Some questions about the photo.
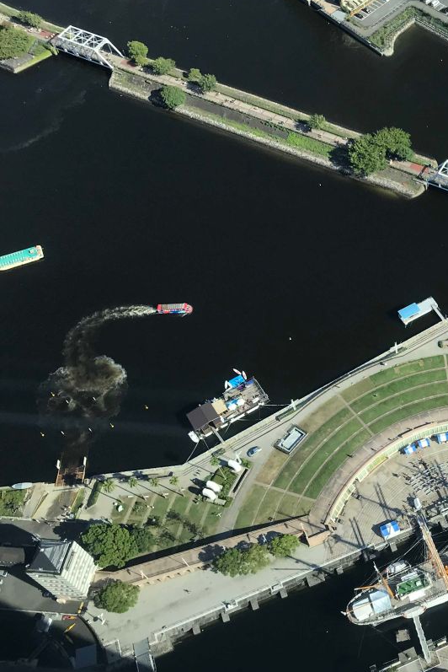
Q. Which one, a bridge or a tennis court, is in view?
bridge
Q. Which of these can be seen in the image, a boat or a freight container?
boat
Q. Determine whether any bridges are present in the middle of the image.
No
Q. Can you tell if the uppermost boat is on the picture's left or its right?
left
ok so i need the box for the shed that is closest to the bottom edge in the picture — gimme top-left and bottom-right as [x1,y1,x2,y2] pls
[76,645,101,671]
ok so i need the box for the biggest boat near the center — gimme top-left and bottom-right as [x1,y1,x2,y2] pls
[186,374,269,438]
